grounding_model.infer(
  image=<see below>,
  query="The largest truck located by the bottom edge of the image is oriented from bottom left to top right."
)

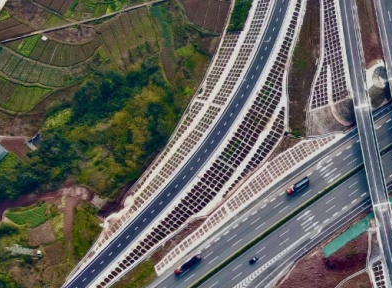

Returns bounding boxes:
[173,253,200,275]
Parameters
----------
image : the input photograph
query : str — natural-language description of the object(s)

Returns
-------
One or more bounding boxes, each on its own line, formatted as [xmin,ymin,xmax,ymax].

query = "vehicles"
[286,176,309,194]
[247,255,257,265]
[173,253,200,275]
